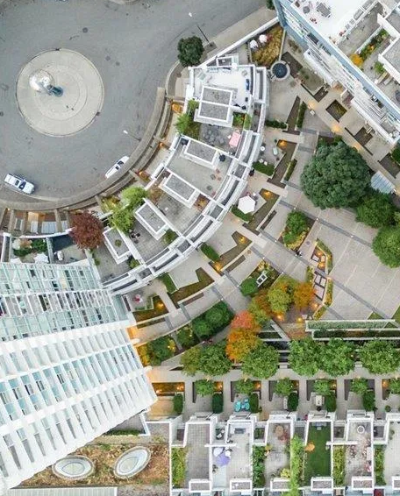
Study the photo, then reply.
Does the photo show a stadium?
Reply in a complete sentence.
No, no stadium is visible in the view.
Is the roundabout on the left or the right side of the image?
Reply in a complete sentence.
The roundabout appears in the left half of the scene.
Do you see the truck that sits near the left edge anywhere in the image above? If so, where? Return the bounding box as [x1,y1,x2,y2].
[3,172,36,194]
